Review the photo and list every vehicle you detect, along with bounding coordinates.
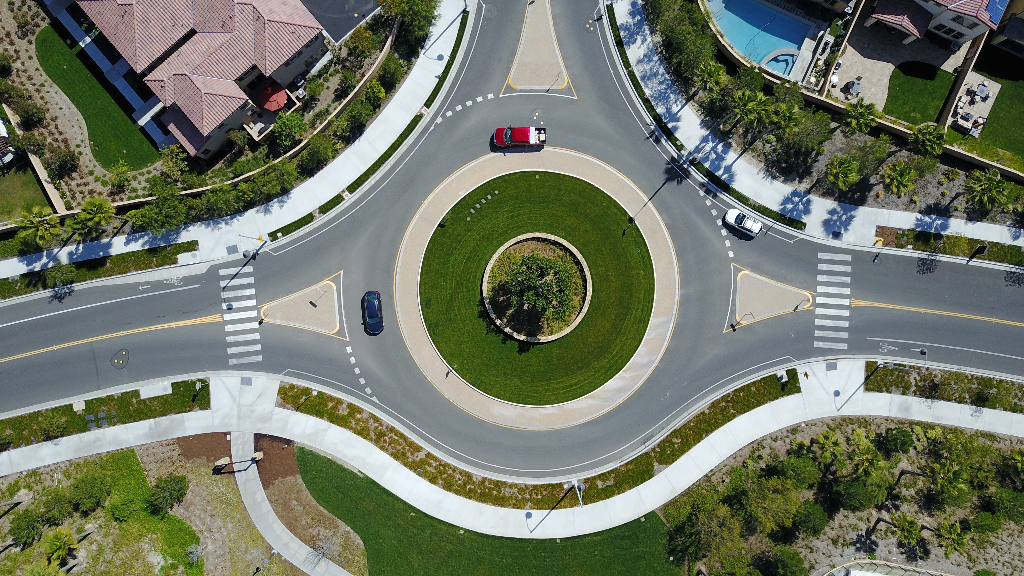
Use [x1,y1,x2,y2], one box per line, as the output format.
[722,208,767,238]
[362,290,382,334]
[491,122,549,147]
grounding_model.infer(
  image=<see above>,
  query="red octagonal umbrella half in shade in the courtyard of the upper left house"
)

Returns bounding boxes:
[261,87,289,116]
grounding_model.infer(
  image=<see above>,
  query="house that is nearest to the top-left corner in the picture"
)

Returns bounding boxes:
[75,0,332,157]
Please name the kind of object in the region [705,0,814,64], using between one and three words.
swimming pool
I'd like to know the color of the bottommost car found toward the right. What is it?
white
